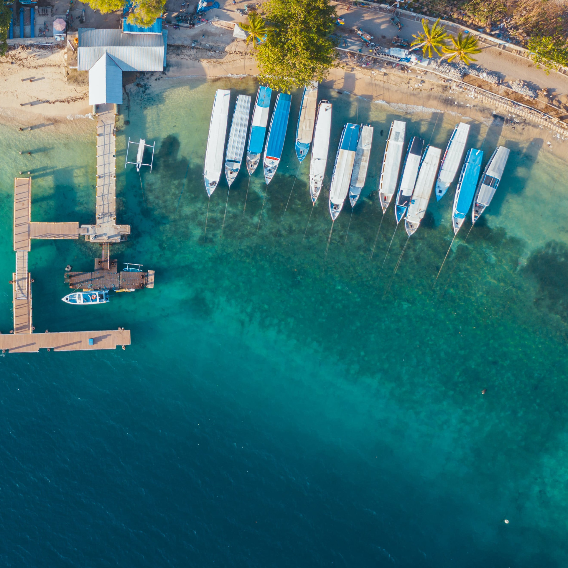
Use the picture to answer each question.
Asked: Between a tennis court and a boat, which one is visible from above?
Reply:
boat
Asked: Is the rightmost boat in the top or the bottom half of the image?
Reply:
top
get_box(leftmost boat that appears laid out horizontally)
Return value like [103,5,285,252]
[62,290,111,305]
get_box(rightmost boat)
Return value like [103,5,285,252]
[464,146,509,238]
